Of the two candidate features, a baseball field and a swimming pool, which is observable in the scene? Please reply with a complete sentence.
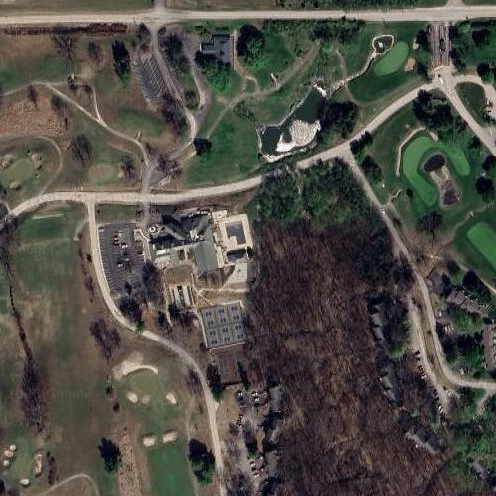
I can see a swimming pool in this picture.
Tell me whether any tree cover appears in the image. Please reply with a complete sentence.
Yes, the picture does contain tree cover.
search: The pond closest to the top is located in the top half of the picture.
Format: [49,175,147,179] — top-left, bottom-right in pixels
[257,86,326,161]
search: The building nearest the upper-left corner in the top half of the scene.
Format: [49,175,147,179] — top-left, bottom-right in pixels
[200,34,234,67]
